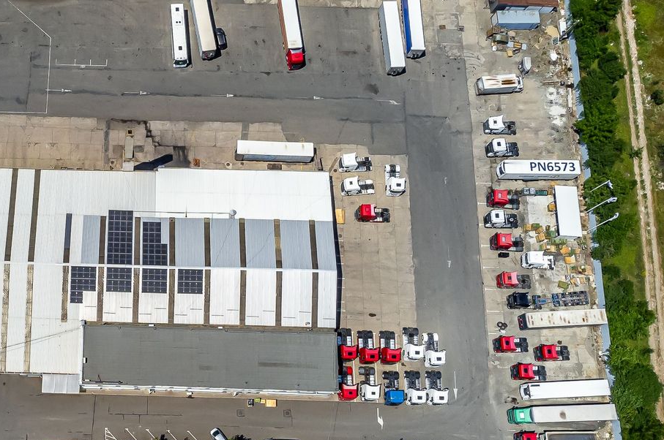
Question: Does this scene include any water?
No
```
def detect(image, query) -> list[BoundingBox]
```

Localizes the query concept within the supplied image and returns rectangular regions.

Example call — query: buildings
[0,167,338,379]
[489,0,559,15]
